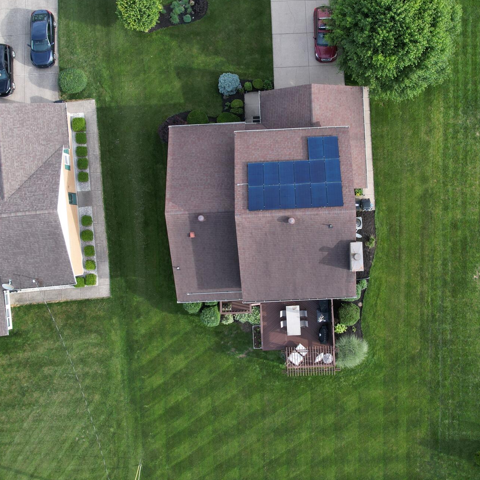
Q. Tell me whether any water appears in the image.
No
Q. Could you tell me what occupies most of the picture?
grass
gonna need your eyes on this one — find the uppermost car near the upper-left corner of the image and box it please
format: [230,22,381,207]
[25,10,57,70]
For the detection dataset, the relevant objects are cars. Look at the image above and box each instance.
[311,5,339,63]
[0,42,17,98]
[25,10,57,70]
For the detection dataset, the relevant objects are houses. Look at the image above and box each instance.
[0,102,85,336]
[164,84,369,305]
